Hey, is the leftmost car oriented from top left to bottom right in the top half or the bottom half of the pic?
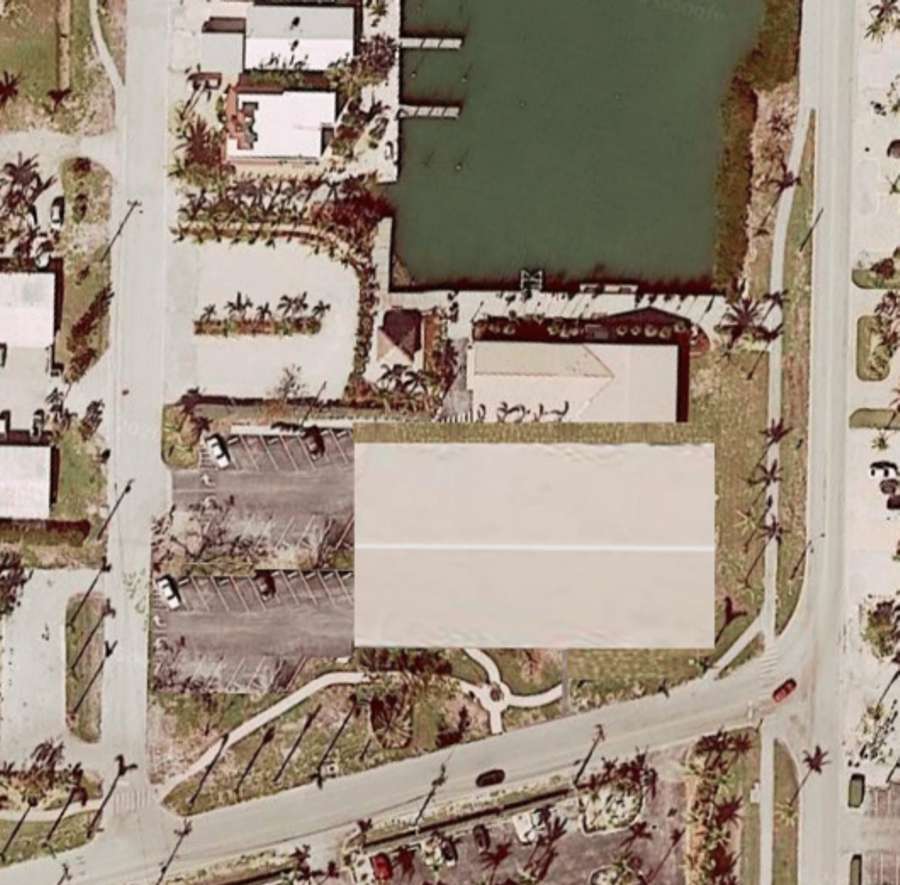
bottom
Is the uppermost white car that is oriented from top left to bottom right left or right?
left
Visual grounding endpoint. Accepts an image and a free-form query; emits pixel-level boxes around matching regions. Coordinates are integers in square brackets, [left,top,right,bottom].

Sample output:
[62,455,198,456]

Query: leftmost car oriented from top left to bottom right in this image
[158,578,182,609]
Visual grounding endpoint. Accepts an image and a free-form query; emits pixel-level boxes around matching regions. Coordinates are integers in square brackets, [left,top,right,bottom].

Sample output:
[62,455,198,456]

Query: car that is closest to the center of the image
[306,429,325,457]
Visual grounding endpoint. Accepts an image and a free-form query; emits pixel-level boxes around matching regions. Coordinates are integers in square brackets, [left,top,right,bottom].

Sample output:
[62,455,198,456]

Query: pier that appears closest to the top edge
[402,37,461,50]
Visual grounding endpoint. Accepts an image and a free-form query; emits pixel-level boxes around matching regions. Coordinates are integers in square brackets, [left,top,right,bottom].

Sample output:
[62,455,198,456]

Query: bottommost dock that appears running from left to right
[401,105,459,119]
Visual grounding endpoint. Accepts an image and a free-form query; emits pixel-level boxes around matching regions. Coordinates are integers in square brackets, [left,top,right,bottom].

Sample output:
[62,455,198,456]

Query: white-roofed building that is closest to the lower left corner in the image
[0,446,50,518]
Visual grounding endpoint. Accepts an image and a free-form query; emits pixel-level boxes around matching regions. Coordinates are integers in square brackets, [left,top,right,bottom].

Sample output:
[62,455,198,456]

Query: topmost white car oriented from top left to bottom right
[206,438,230,468]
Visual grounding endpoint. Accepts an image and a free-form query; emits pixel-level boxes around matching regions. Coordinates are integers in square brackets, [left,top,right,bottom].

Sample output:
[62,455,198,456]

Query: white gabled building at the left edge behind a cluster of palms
[0,272,54,350]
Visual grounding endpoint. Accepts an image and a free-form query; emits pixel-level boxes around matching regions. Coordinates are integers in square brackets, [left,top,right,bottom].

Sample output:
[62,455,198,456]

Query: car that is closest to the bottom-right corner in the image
[773,678,797,702]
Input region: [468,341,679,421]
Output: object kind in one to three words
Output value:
building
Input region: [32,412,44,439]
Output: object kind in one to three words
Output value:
vehicle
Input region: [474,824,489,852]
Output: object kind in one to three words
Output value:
car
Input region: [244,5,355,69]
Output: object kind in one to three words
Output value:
house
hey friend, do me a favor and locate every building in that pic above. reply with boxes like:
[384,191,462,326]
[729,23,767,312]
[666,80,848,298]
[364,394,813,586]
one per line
[0,446,50,518]
[226,88,336,165]
[468,341,679,421]
[0,272,54,350]
[377,326,413,362]
[244,5,355,69]
[200,33,243,72]
[355,442,715,649]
